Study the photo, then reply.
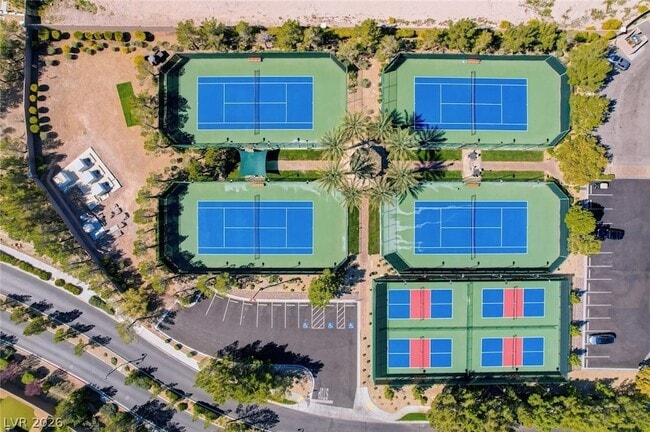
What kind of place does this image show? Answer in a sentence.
What you see here is a sports ground.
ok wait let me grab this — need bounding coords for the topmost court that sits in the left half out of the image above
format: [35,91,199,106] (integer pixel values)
[166,59,346,148]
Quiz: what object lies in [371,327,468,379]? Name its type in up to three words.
sports court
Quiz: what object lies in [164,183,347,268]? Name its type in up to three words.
tennis court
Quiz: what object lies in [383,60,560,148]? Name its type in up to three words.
tennis court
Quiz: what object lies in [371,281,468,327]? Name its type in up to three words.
sports court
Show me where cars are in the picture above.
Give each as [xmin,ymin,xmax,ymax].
[606,53,631,71]
[589,334,614,345]
[598,228,625,240]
